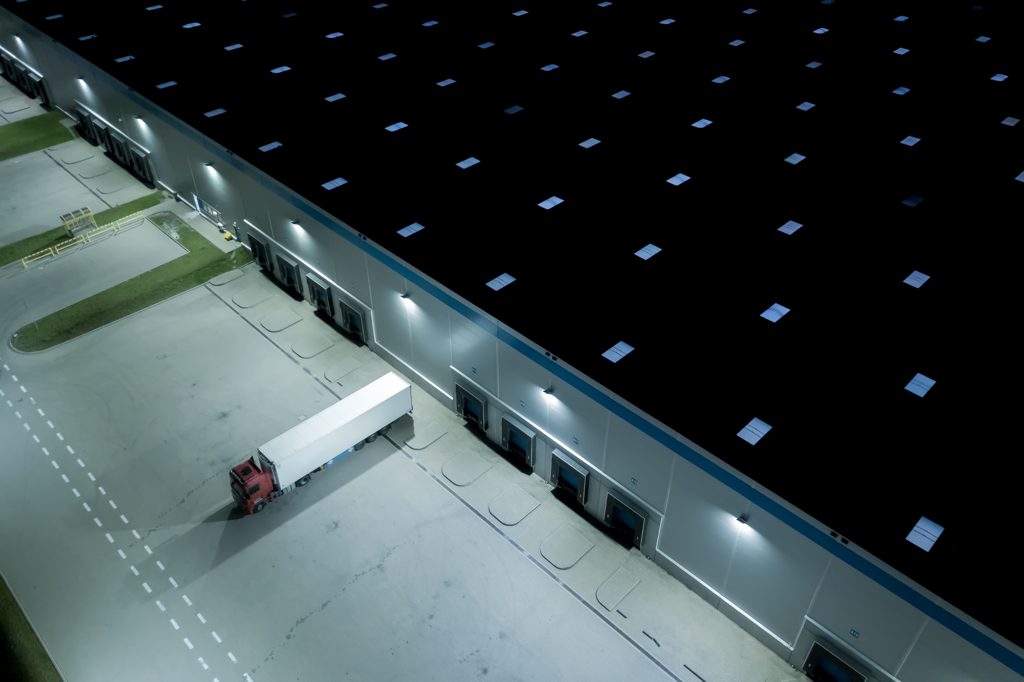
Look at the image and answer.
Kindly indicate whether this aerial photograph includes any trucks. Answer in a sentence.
Yes, there's a truck down there.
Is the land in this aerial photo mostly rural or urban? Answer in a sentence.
The area shown here is urban.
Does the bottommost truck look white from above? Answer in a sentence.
Yes, the bottommost truck is indeed white.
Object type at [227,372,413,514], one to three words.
truck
